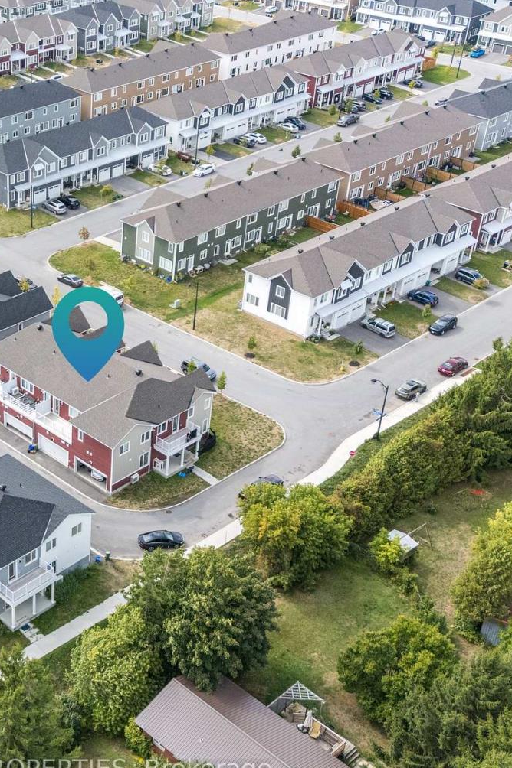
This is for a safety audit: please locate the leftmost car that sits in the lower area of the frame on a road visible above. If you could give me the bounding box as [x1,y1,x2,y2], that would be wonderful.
[140,529,179,556]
